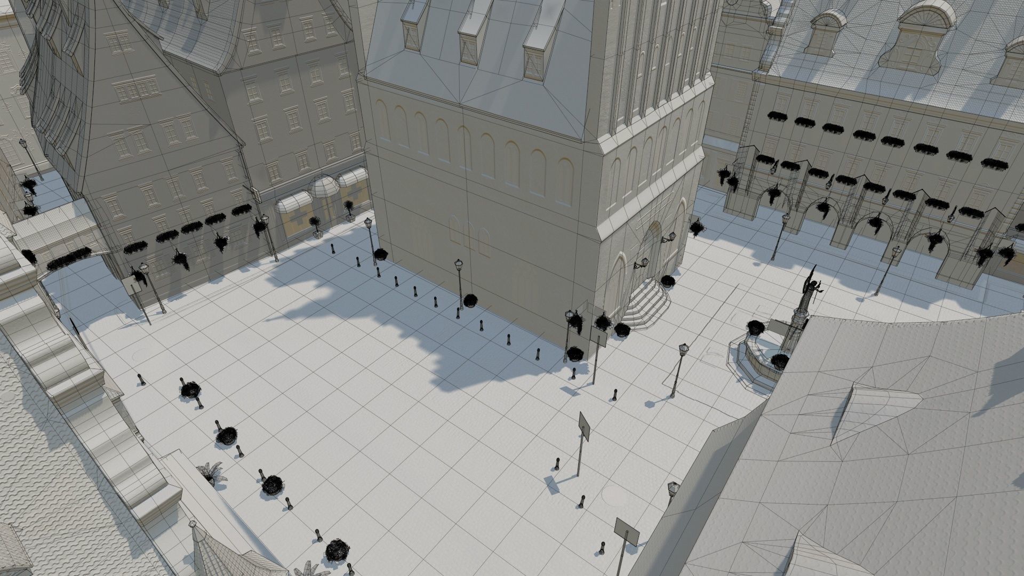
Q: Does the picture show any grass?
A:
No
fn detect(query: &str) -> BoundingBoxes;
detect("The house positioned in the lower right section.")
[623,314,1024,576]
